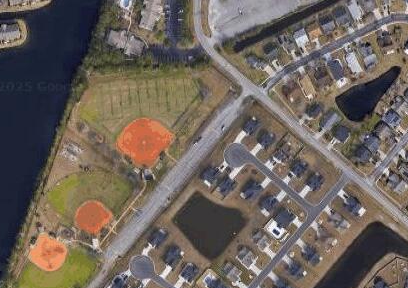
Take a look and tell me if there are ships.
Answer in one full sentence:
No, I can't see a single ship in this photo.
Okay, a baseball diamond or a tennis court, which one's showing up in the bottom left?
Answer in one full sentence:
What appears in the bottom left is a baseball diamond.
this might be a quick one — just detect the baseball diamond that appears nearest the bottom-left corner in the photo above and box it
[18,231,101,288]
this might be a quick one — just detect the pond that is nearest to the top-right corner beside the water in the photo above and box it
[336,66,400,121]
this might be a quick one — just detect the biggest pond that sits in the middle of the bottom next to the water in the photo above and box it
[173,191,243,261]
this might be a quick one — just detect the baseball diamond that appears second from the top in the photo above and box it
[48,168,134,235]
